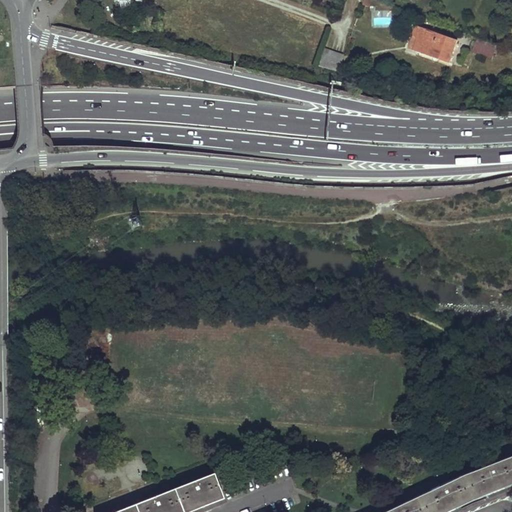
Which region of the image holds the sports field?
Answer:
bottom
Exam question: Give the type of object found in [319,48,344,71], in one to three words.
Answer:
shed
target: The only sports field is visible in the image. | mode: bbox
[109,322,404,442]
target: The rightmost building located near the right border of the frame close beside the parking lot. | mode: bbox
[386,456,512,512]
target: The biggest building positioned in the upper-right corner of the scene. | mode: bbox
[406,28,456,66]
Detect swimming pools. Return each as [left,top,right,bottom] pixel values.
[371,10,392,28]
